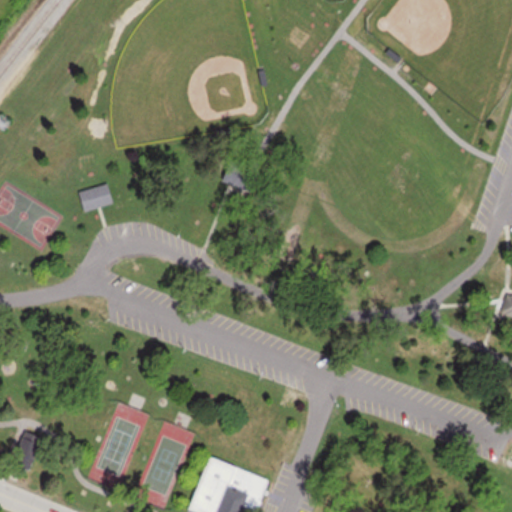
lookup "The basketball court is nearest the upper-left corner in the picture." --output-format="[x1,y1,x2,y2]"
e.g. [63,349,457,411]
[0,180,65,252]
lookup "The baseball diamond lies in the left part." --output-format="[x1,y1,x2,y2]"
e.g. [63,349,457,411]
[111,0,268,148]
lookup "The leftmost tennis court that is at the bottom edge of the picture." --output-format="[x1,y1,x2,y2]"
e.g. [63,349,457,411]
[88,403,149,490]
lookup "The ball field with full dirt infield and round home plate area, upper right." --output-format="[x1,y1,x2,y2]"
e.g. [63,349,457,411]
[366,0,512,120]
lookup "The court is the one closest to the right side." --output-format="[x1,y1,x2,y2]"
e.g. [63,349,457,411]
[134,422,195,508]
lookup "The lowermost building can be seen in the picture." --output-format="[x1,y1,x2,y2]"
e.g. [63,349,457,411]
[189,457,269,512]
